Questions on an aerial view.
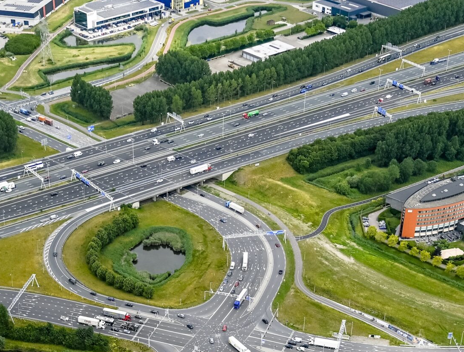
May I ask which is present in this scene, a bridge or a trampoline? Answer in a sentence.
Of the two, only a bridge appears.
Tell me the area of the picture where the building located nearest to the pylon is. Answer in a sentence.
The building located nearest to the pylon appears toward the top left of the photo.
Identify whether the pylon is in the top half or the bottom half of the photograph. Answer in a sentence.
You can find the pylon in the top half.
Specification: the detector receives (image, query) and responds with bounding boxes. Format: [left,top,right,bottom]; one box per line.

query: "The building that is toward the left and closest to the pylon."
[0,0,63,25]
